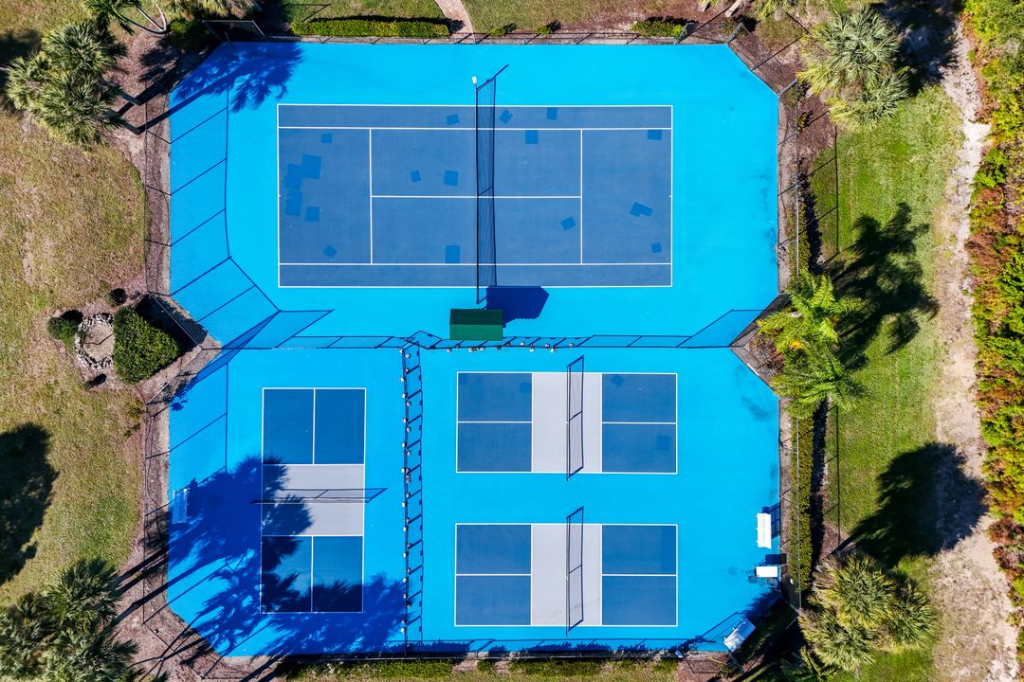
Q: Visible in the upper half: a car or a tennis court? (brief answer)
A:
tennis court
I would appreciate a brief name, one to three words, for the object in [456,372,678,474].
sports court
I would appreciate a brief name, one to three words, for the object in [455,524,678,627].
sports court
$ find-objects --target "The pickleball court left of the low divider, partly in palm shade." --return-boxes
[260,388,365,613]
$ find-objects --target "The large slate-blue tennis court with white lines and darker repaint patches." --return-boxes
[277,103,673,287]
